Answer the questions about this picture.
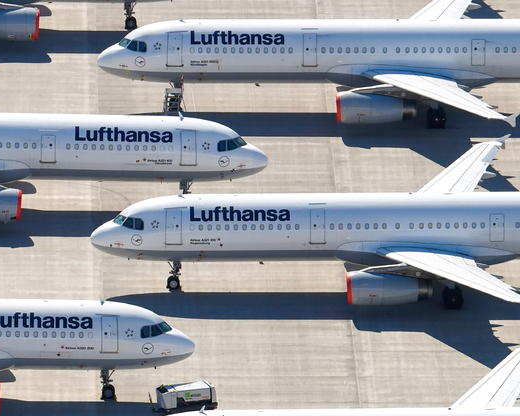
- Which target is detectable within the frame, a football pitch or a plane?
plane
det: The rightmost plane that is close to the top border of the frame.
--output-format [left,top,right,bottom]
[97,0,520,130]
